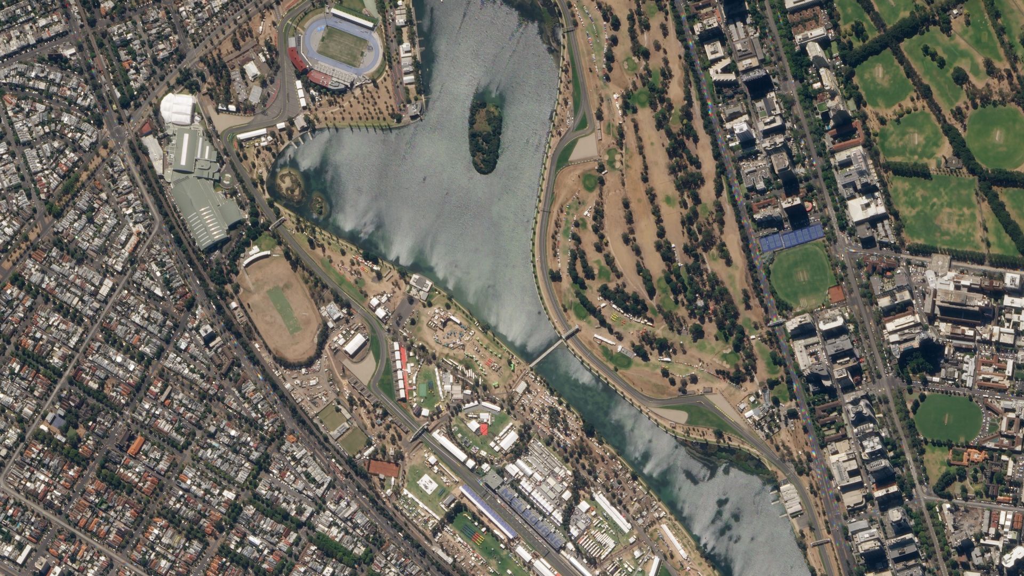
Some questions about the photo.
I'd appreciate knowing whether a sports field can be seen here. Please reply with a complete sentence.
Yes, this view includes a sports field.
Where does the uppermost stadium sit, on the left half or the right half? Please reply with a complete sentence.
It is on the left.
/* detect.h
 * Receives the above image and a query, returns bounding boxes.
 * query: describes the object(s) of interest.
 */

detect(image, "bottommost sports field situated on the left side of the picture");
[238,255,322,362]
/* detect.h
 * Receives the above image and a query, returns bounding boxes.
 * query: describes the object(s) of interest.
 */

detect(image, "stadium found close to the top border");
[288,0,387,91]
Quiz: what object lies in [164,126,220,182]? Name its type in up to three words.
building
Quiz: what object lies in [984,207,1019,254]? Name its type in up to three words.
sports field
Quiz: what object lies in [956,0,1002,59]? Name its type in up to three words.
sports field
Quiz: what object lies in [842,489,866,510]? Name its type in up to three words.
building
